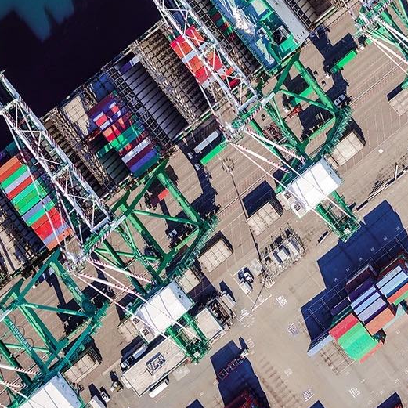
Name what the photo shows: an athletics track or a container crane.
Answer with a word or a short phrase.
container crane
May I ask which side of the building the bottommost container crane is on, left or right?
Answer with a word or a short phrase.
to the left of it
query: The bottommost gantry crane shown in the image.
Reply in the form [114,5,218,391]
[0,239,121,408]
